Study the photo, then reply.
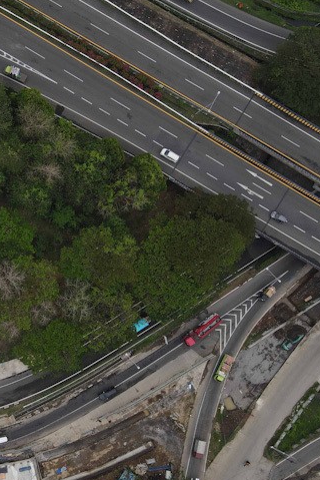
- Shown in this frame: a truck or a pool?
truck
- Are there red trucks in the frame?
Yes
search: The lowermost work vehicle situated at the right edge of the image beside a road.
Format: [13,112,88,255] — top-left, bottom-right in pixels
[279,332,311,353]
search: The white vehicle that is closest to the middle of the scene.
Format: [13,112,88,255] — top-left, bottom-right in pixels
[160,146,183,163]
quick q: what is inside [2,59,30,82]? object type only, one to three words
truck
